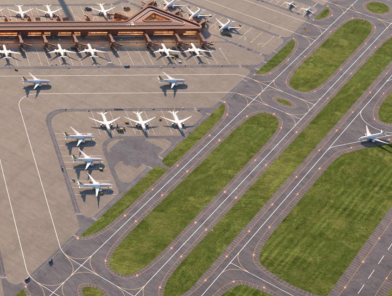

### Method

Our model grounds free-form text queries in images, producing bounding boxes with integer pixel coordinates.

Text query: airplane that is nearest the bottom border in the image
[78,173,112,195]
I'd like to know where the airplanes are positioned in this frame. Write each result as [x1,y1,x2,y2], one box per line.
[217,16,235,31]
[62,126,93,145]
[21,72,50,88]
[359,125,389,143]
[156,71,185,87]
[155,43,182,58]
[282,1,296,8]
[162,109,191,130]
[70,147,102,168]
[91,108,117,131]
[39,5,59,18]
[81,43,105,58]
[186,43,206,57]
[125,108,155,131]
[78,173,112,195]
[0,44,18,59]
[90,3,113,17]
[163,0,179,10]
[299,8,314,13]
[188,4,204,19]
[9,3,32,19]
[48,44,72,58]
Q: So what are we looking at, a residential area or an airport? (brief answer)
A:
airport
